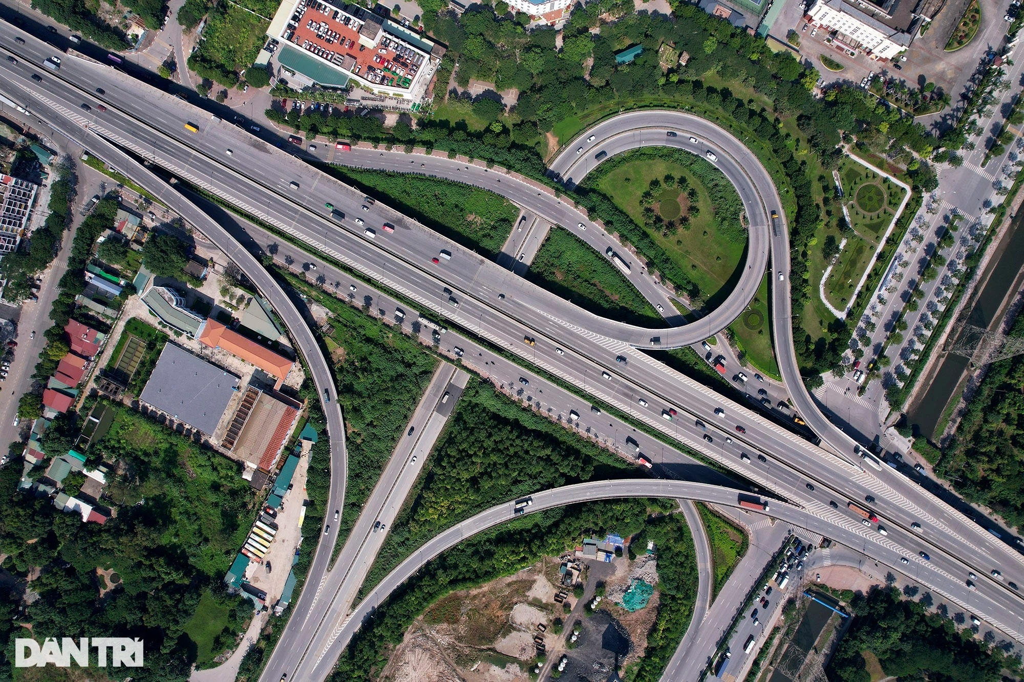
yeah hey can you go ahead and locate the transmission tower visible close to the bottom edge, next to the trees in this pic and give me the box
[772,638,828,682]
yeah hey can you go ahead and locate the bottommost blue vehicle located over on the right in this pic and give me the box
[715,652,731,678]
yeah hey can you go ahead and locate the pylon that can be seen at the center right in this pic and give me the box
[942,320,1024,370]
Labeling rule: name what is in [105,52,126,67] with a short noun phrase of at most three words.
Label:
vehicle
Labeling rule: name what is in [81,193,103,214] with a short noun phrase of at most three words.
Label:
truck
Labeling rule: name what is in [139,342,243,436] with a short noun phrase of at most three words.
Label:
building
